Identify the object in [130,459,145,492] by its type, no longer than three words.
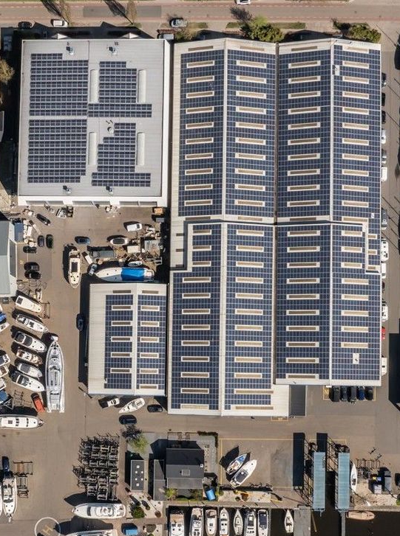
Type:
building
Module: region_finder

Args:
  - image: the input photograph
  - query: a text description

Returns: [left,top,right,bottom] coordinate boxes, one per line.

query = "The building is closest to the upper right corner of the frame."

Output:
[171,36,381,225]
